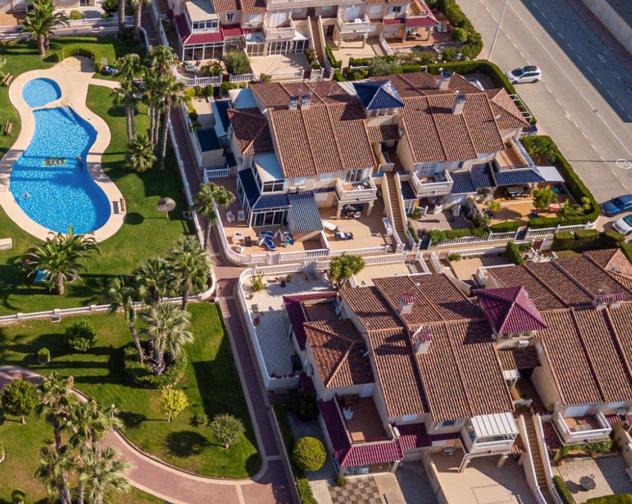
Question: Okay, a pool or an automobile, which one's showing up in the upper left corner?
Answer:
pool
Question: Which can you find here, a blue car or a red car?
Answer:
blue car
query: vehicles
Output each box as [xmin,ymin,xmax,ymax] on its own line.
[603,196,632,218]
[614,213,632,234]
[507,67,547,85]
